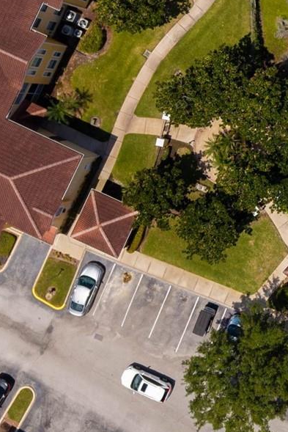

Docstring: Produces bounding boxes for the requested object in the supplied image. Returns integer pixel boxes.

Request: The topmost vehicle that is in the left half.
[64,258,111,320]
